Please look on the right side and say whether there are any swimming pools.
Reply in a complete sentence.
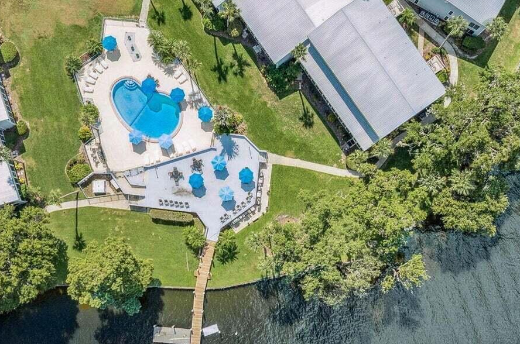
No, no swimming pool is visible on the right side.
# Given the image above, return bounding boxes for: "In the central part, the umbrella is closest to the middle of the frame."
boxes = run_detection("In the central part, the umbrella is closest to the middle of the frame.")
[239,169,253,183]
